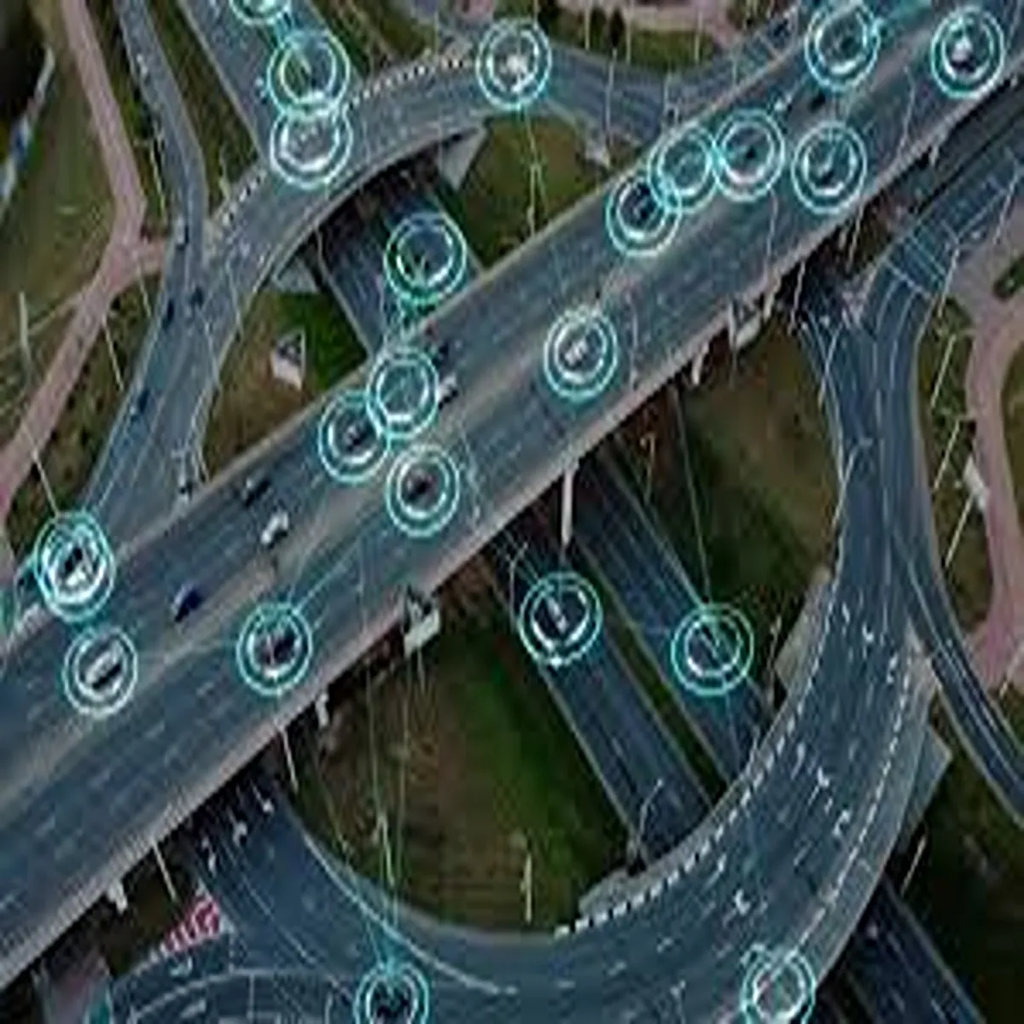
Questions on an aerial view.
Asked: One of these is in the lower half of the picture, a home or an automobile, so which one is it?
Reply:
automobile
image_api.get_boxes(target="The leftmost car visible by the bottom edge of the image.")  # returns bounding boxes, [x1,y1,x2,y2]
[368,980,417,1016]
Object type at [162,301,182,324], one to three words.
car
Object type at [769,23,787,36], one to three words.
vehicle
